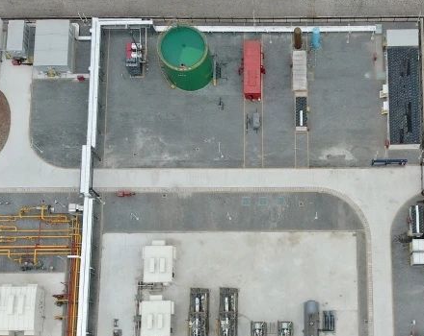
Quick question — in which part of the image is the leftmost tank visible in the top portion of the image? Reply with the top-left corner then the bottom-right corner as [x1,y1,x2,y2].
[155,20,217,90]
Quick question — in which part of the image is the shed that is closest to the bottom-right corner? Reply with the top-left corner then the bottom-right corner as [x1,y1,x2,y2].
[408,205,424,240]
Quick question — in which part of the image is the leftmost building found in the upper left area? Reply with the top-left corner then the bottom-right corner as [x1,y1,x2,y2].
[5,20,33,60]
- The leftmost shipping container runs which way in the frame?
from top to bottom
